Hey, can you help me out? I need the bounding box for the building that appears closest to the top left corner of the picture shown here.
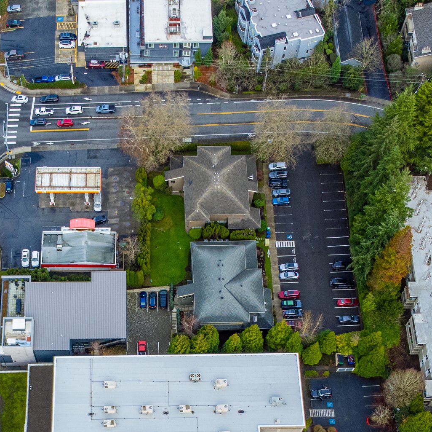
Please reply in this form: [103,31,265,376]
[77,0,128,63]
